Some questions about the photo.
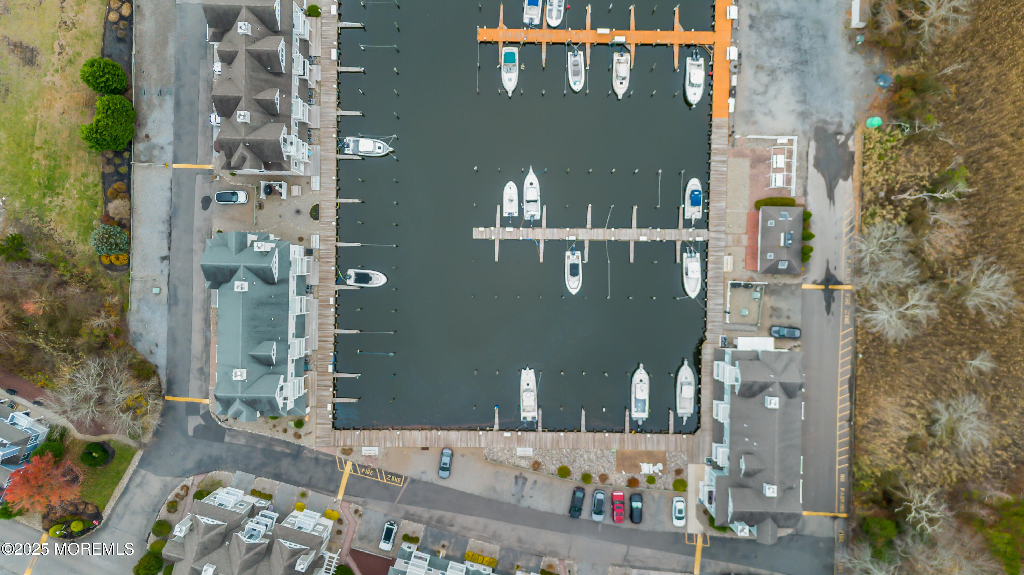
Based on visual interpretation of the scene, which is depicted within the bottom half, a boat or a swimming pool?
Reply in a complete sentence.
The feature located within the bottom half is a boat.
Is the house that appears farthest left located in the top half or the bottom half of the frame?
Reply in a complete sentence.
The bottom half of the photo is where the house that appears farthest left is.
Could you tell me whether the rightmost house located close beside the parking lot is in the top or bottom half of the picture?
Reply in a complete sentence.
You can find the rightmost house located close beside the parking lot in the bottom half.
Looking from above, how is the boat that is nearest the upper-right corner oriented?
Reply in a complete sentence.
The boat that is nearest the upper-right corner is oriented vertically.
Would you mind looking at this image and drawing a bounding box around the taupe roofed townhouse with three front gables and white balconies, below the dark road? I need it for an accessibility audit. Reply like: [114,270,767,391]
[155,482,336,575]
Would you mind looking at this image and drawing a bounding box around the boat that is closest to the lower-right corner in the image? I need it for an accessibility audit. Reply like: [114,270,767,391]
[675,358,694,424]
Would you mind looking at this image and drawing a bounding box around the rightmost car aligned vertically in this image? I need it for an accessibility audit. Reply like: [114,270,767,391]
[672,497,687,527]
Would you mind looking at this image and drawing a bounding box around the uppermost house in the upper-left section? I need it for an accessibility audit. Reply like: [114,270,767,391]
[202,0,317,175]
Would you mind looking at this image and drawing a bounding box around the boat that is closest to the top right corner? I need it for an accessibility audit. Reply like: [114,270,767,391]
[684,52,704,108]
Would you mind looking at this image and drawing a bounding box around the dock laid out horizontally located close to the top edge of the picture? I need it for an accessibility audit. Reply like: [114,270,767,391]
[477,2,714,71]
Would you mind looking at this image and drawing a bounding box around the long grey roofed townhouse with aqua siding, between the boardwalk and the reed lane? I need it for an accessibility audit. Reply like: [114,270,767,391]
[694,348,805,545]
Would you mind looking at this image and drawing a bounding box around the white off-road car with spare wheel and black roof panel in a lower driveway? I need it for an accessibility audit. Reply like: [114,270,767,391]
[379,520,397,552]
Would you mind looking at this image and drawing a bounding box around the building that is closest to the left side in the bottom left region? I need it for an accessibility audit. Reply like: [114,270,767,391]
[0,391,48,492]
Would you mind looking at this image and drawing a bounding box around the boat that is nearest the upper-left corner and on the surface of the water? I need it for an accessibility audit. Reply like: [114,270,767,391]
[340,136,394,156]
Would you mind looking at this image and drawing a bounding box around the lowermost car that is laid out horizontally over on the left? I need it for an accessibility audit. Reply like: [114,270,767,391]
[215,189,248,204]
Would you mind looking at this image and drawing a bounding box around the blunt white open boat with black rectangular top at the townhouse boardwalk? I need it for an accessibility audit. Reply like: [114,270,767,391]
[343,270,388,287]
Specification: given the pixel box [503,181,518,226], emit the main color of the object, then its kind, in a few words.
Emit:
white boat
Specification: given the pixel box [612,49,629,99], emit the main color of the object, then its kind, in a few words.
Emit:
white boat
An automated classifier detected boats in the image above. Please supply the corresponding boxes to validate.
[501,47,518,97]
[523,0,541,28]
[612,49,629,99]
[682,247,701,299]
[684,178,702,228]
[631,362,649,426]
[520,365,537,429]
[523,166,540,226]
[546,0,564,27]
[340,136,394,156]
[684,52,704,108]
[565,245,582,295]
[675,358,694,424]
[568,48,585,92]
[503,181,518,226]
[343,270,388,287]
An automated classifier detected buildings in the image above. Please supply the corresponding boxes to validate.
[694,348,805,545]
[200,231,313,423]
[0,391,48,492]
[381,537,494,575]
[155,482,336,575]
[746,206,803,273]
[851,0,871,28]
[202,0,317,175]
